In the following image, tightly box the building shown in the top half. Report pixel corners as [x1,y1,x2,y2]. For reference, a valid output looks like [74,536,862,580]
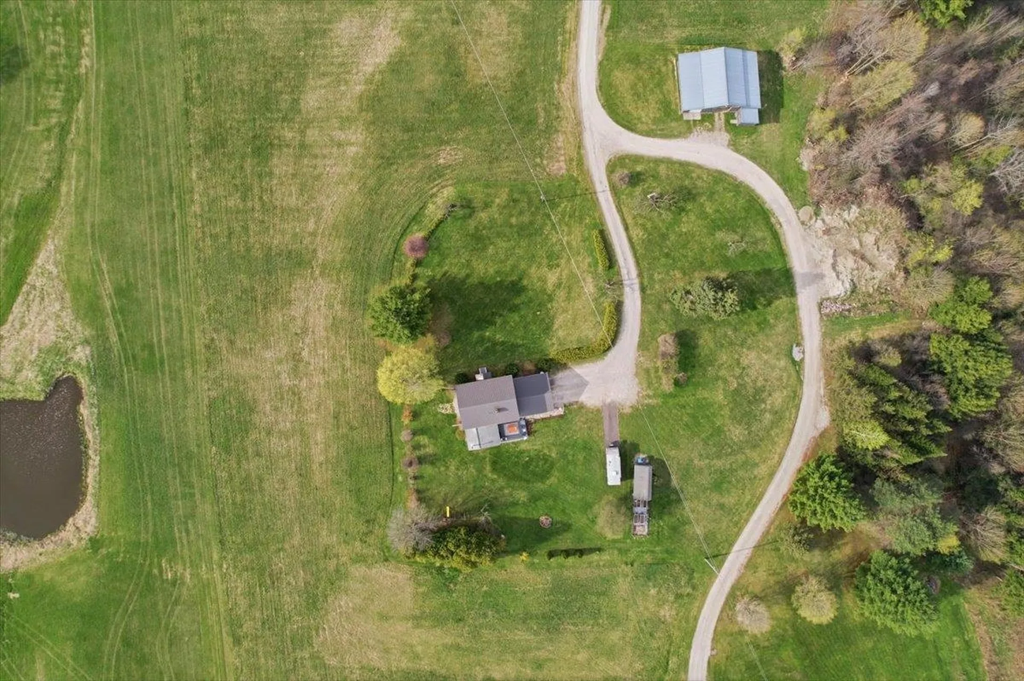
[675,46,761,130]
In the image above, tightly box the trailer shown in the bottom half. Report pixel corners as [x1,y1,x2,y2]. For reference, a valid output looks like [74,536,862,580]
[605,439,621,485]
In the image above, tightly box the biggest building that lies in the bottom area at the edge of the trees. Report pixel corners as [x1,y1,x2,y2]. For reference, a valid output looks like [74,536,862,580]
[457,373,551,450]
